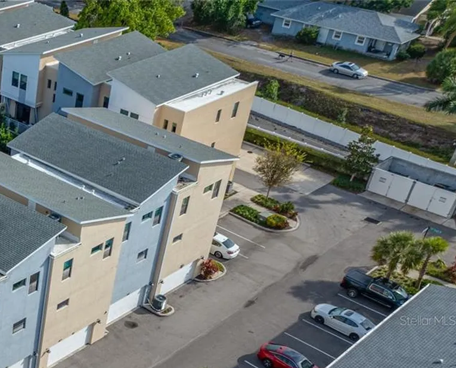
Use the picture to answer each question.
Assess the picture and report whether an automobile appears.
Yes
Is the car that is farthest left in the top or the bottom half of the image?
bottom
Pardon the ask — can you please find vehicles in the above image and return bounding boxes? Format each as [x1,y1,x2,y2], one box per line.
[310,303,379,342]
[210,232,240,260]
[343,271,418,314]
[329,63,368,78]
[256,343,317,368]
